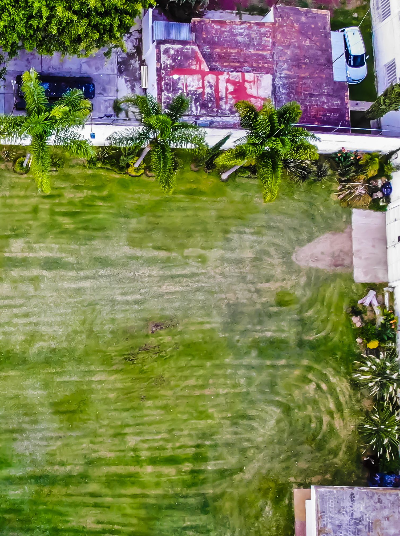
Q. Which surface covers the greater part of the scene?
grass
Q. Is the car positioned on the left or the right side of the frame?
right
